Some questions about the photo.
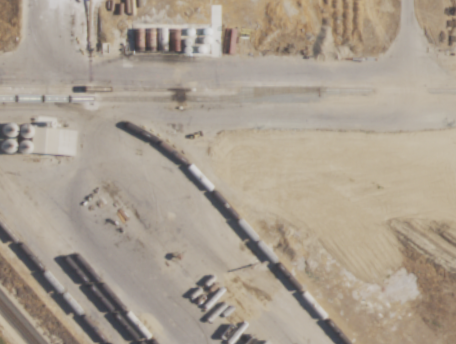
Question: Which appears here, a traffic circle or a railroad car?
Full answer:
Of the two, only a railroad car appears.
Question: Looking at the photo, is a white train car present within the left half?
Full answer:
Yes, within the left half there is a white train car.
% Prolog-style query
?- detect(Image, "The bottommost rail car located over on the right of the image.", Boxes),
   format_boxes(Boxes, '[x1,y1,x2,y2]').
[328,318,355,344]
